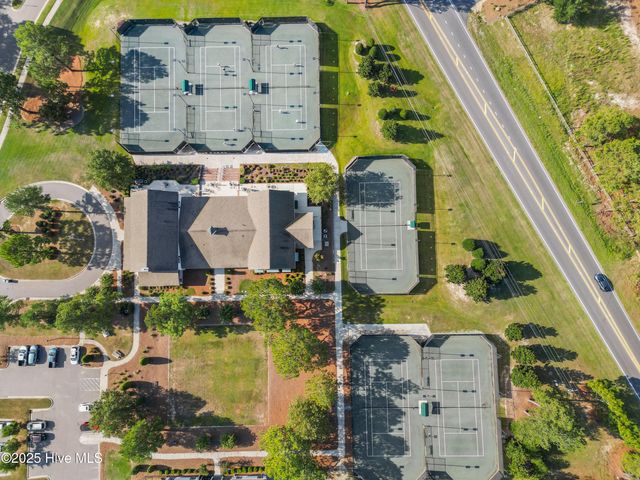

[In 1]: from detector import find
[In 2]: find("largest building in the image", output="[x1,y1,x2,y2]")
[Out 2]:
[124,189,313,286]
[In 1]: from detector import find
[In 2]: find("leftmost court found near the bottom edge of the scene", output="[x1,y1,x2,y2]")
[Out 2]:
[351,338,426,480]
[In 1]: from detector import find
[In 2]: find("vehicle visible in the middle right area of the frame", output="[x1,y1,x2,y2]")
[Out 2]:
[598,273,614,292]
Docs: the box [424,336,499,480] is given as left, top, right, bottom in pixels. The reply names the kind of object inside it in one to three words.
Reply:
tennis court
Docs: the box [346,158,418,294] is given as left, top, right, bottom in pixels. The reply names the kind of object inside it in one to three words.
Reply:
tennis court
